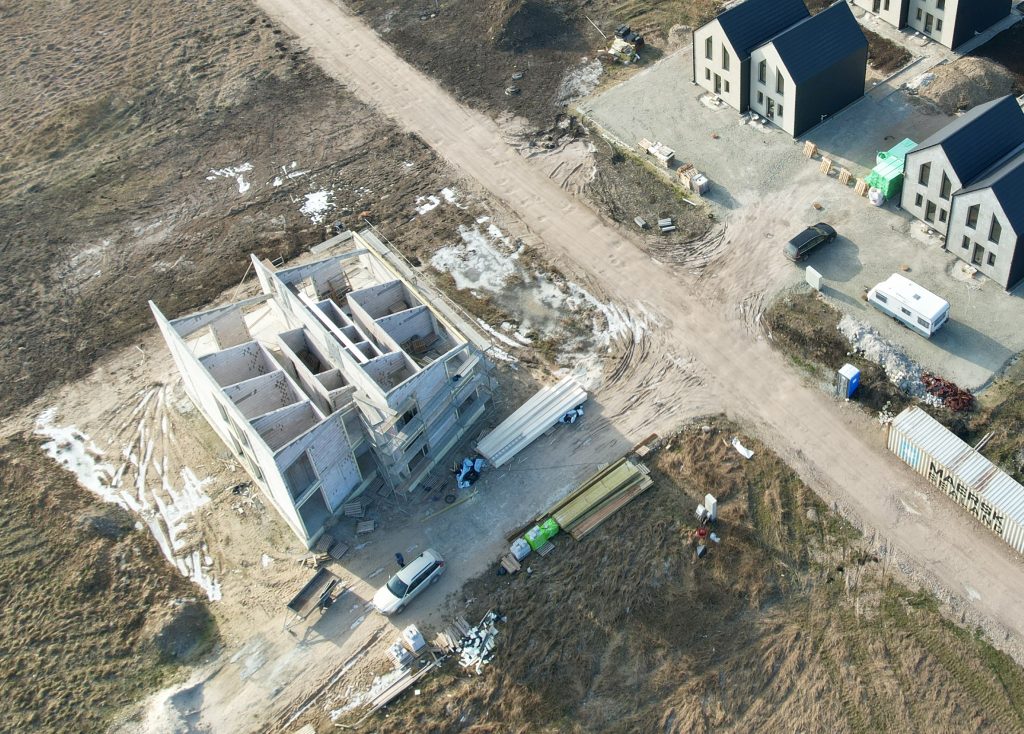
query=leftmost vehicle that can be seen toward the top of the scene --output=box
[780,218,844,264]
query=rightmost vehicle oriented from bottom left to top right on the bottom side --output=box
[369,547,447,614]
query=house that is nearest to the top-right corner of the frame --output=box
[902,0,1016,52]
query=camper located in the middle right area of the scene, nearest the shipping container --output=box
[865,266,951,335]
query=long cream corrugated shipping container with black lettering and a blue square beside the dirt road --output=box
[887,406,1024,556]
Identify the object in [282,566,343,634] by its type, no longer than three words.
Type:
trailer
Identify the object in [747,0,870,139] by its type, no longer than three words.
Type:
house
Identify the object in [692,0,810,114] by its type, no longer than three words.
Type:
house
